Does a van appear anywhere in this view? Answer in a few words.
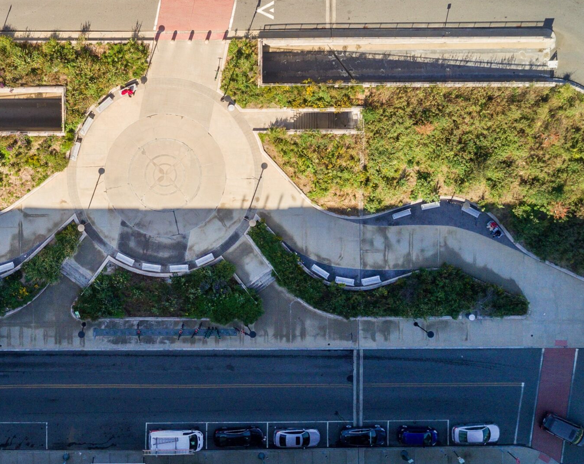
Yes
